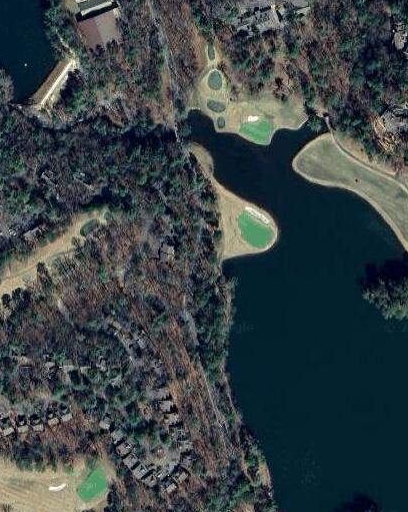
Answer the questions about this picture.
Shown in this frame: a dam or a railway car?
dam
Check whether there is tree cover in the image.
Yes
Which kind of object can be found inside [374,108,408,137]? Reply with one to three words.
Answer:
house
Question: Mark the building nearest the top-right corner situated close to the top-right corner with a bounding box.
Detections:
[393,21,408,49]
